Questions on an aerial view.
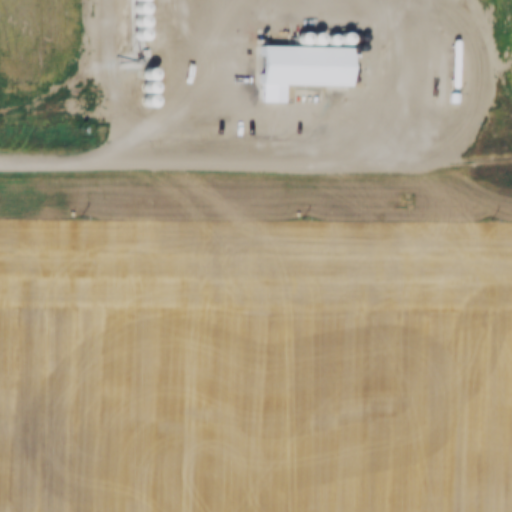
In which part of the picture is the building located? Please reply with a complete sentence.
The building is located in the top region of the scene.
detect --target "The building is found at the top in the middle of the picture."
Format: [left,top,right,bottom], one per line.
[256,42,361,106]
